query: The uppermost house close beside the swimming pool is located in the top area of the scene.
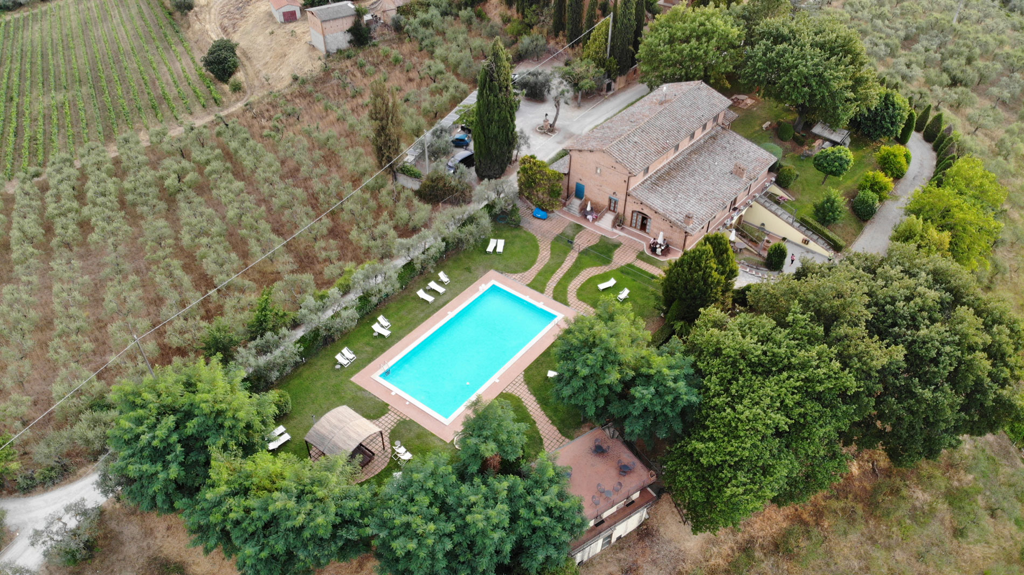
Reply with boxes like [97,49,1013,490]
[560,77,769,250]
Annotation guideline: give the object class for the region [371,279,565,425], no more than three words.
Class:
swimming pool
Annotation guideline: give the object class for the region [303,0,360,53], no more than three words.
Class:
barn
